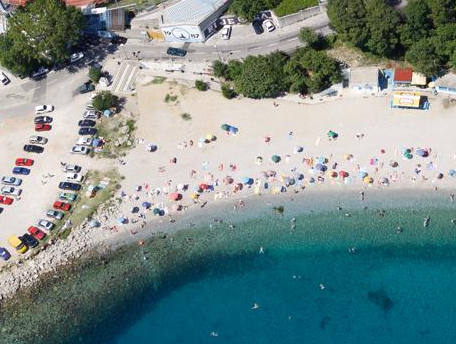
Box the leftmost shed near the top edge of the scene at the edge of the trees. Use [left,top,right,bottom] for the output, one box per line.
[84,15,105,40]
